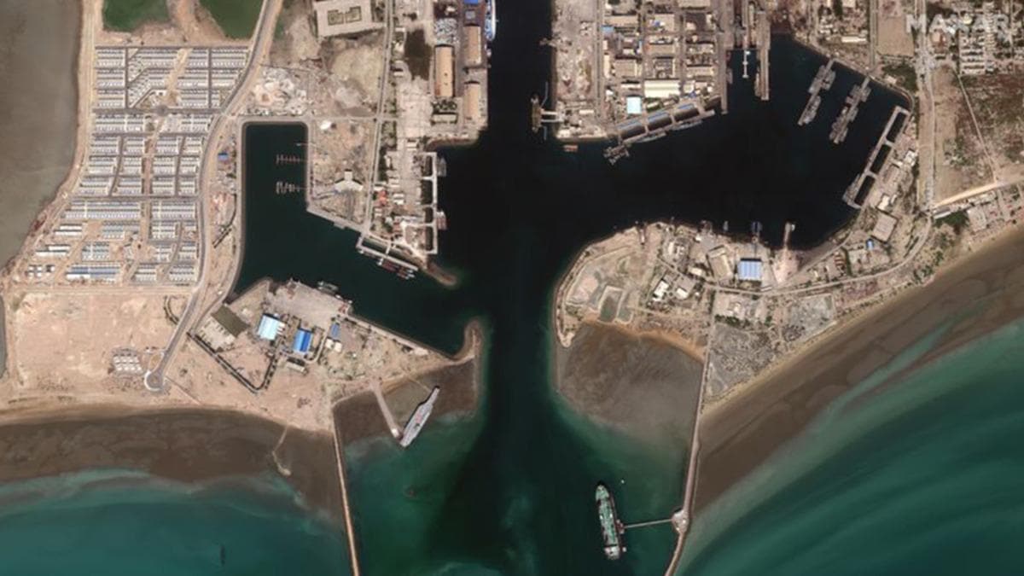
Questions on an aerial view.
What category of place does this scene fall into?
port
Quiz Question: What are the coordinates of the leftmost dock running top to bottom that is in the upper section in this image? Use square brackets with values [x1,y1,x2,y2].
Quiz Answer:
[404,153,437,254]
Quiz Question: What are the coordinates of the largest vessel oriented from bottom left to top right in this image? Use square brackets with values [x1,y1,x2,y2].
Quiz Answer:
[400,387,439,447]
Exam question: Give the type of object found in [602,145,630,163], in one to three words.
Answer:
ship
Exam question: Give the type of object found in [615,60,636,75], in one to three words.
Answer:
building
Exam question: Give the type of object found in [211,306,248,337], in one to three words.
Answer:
hangar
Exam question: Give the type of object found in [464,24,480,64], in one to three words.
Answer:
building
